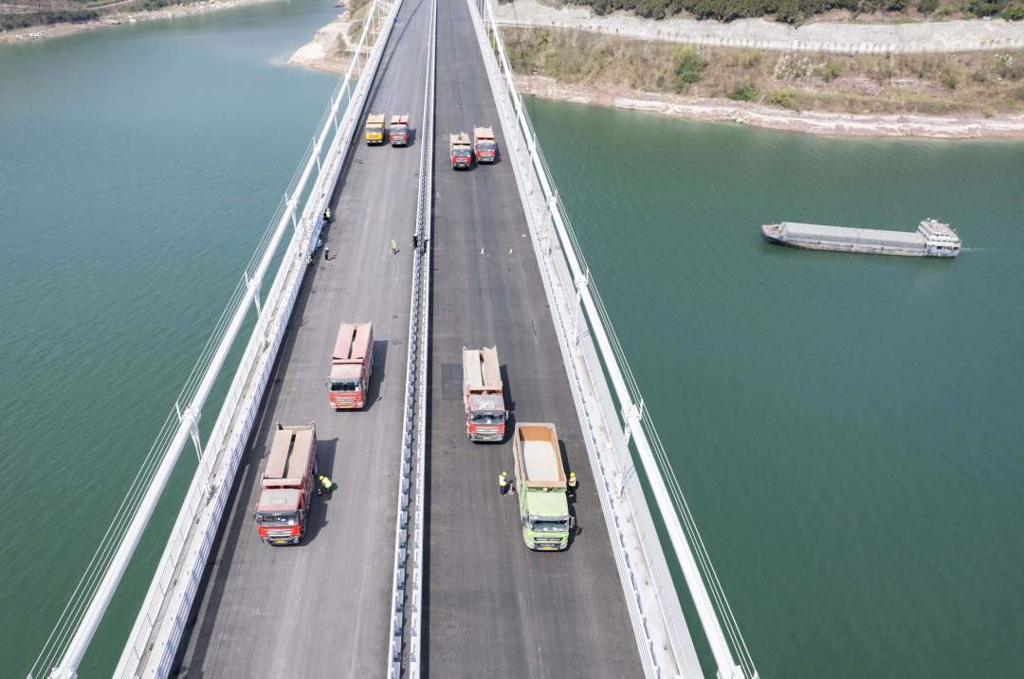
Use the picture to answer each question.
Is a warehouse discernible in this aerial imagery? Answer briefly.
No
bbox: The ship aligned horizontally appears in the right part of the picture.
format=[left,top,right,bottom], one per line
[760,218,961,260]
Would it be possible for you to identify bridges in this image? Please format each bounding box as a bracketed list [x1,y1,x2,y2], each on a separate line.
[30,0,759,679]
